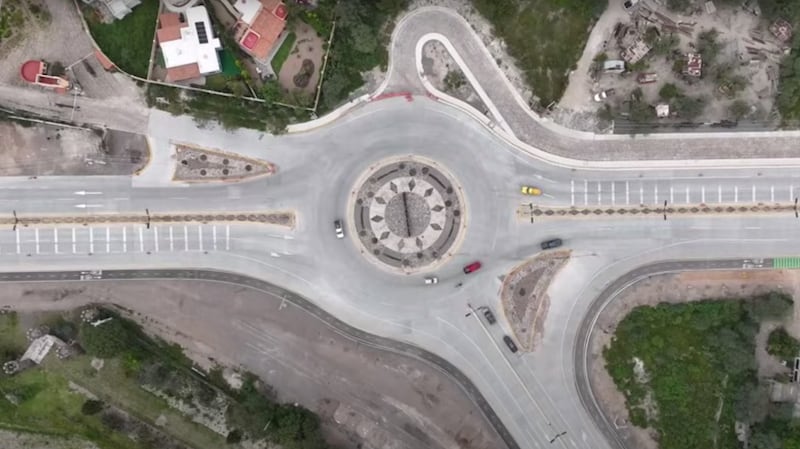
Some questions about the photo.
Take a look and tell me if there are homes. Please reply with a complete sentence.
Yes, the picture does show a home.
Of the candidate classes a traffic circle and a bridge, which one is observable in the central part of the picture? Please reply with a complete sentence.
The one visible in the central part of the picture is a traffic circle.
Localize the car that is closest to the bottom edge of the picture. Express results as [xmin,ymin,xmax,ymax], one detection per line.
[503,333,518,353]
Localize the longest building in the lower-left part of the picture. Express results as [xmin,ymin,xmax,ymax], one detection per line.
[20,333,71,369]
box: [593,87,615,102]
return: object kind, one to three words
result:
vehicle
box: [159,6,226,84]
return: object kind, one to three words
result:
house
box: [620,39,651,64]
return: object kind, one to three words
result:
shed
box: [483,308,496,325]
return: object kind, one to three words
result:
vehicle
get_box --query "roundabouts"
[300,108,514,322]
